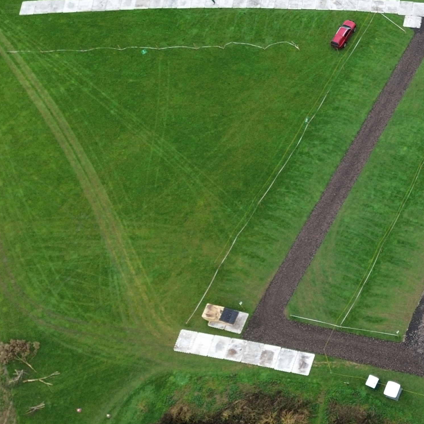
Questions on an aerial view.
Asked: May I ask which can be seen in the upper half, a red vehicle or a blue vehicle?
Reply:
red vehicle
